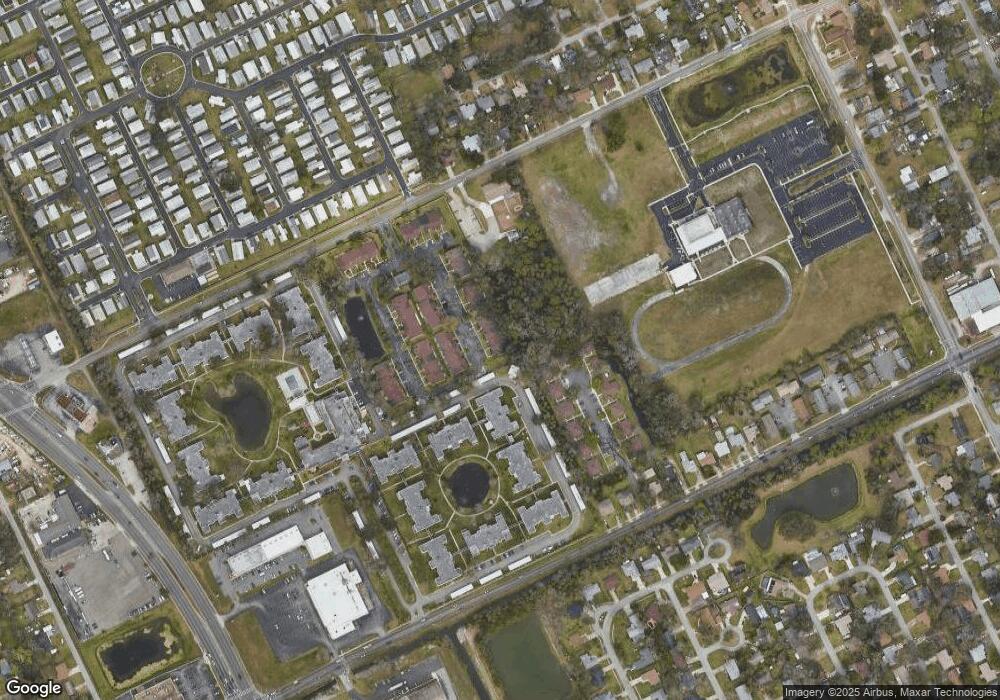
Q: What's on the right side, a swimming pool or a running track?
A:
running track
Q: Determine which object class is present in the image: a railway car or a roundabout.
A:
roundabout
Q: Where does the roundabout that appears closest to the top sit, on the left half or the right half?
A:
left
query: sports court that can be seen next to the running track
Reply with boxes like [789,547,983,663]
[584,253,661,305]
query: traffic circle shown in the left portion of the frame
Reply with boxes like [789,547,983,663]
[132,43,194,105]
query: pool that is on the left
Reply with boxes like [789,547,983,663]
[276,367,309,401]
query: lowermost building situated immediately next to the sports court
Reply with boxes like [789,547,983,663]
[669,262,697,287]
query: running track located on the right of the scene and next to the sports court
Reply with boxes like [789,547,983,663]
[633,255,791,381]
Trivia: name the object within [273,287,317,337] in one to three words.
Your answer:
building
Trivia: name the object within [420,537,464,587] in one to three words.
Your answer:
building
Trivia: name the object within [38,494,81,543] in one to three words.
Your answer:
shed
